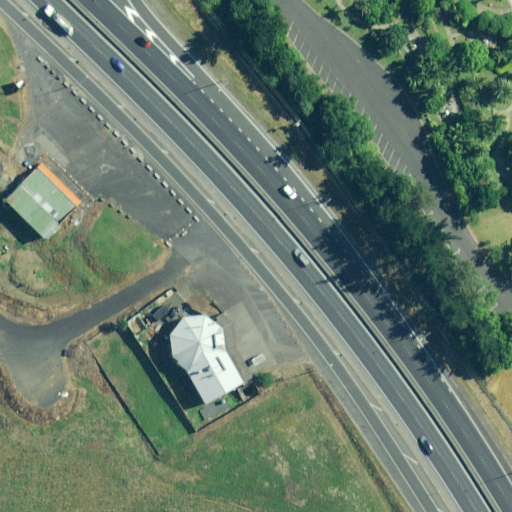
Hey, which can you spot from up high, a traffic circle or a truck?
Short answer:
truck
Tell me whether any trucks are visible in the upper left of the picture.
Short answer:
Yes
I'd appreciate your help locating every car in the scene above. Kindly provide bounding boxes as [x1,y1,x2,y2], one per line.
[282,184,296,199]
[178,51,192,66]
[111,58,125,72]
[168,306,181,317]
[295,250,309,265]
[139,36,152,50]
[420,438,432,454]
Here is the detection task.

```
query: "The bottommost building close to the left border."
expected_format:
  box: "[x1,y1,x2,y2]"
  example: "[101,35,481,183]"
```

[2,162,81,239]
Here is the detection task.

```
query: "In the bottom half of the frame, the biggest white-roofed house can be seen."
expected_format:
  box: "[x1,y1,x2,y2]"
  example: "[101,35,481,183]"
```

[166,314,244,404]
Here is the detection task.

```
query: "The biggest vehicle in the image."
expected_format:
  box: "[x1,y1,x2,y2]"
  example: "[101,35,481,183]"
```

[42,2,76,36]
